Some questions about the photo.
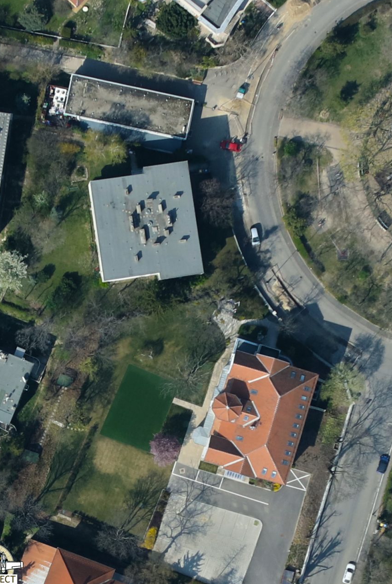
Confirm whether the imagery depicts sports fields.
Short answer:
Yes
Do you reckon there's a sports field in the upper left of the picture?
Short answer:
No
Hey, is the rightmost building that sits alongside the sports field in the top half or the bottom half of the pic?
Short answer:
bottom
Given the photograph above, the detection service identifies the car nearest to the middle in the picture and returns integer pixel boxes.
[249,225,262,248]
